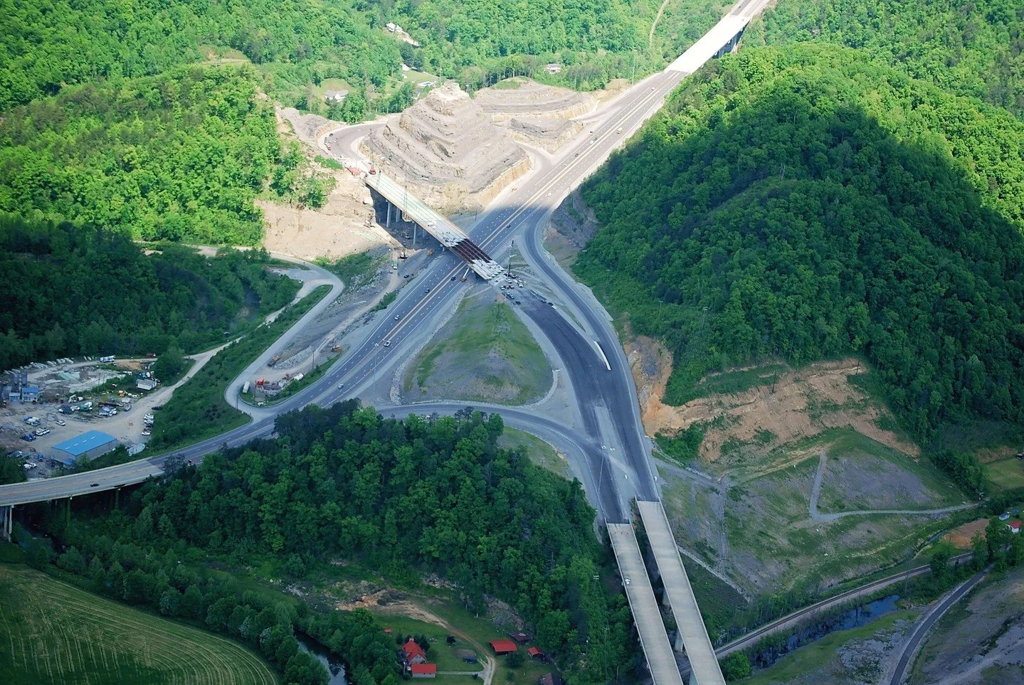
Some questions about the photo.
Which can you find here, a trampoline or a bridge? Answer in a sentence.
The one in the frame is a bridge.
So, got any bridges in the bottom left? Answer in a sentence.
Yes, in the bottom left there is a bridge.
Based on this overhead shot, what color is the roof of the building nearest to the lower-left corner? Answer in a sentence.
From above, the roof of the building nearest to the lower-left corner looks blue.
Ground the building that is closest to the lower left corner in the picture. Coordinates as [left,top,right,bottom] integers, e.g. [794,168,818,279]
[56,427,114,464]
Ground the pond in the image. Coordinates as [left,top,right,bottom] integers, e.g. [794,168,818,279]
[725,593,902,685]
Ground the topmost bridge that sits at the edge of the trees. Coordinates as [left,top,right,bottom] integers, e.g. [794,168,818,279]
[666,13,751,74]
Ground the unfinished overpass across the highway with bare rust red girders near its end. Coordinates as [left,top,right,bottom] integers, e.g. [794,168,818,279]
[365,170,505,280]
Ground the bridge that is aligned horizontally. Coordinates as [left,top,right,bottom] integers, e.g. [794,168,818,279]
[0,455,166,541]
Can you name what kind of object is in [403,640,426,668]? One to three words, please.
house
